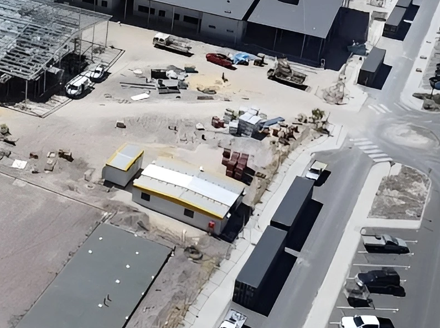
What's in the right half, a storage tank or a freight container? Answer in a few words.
freight container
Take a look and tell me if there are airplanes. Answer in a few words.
No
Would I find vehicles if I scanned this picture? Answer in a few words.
Yes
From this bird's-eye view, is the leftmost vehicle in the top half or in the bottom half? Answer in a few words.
top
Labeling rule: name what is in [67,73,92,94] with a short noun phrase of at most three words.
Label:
vehicle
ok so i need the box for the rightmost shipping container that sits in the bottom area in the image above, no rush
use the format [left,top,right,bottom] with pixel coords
[270,175,315,245]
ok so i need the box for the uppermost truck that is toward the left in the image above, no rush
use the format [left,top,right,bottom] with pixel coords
[155,30,193,55]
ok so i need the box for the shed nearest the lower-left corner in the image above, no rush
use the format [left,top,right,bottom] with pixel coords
[106,144,143,185]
